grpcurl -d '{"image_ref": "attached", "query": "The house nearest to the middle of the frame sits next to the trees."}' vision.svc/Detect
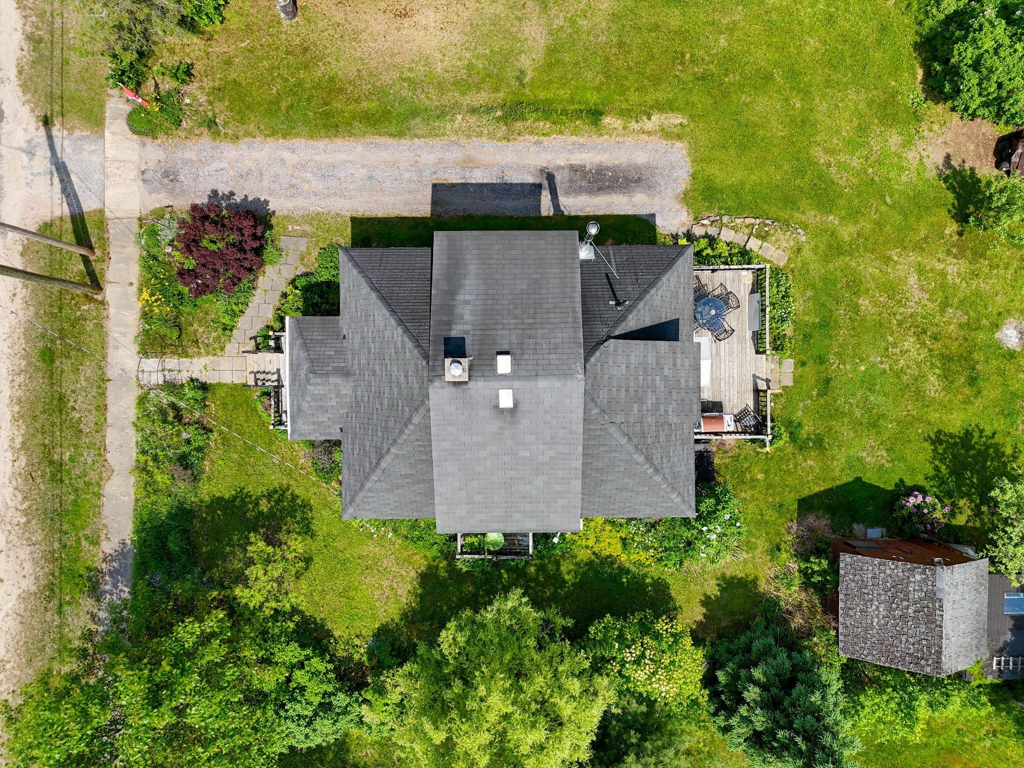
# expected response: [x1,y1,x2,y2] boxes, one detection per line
[285,221,702,544]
